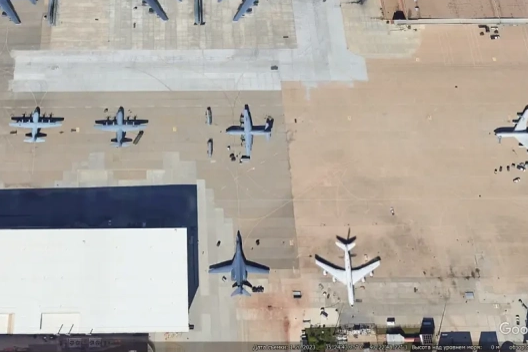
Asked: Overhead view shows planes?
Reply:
Yes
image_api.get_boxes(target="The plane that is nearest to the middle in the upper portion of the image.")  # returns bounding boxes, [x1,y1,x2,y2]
[228,108,270,158]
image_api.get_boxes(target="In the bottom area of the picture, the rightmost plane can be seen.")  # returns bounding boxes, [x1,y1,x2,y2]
[316,238,381,307]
